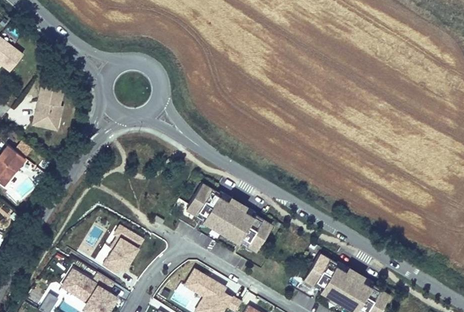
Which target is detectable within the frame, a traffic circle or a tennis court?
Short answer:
traffic circle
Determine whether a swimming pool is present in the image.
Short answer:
Yes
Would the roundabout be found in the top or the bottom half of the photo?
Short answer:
top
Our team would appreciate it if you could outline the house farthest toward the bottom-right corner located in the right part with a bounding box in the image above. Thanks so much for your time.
[304,254,392,312]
